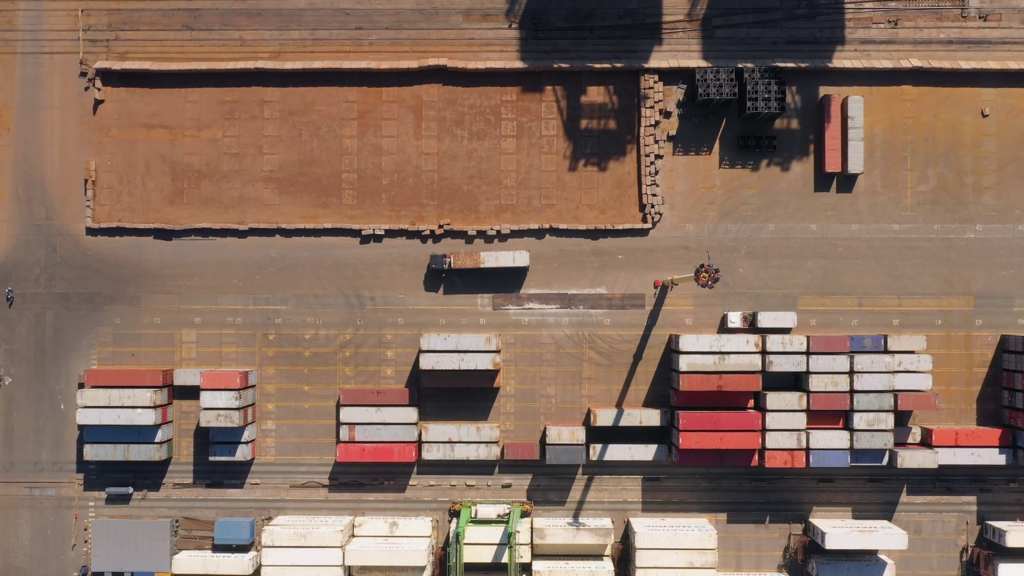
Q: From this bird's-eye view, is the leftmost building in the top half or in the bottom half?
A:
bottom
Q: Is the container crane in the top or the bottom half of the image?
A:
bottom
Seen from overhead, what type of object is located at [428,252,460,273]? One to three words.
truck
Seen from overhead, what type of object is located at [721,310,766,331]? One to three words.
truck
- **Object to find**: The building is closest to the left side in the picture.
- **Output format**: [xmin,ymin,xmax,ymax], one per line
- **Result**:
[91,517,176,571]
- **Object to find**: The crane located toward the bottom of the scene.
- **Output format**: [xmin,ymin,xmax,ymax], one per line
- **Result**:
[444,501,539,576]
